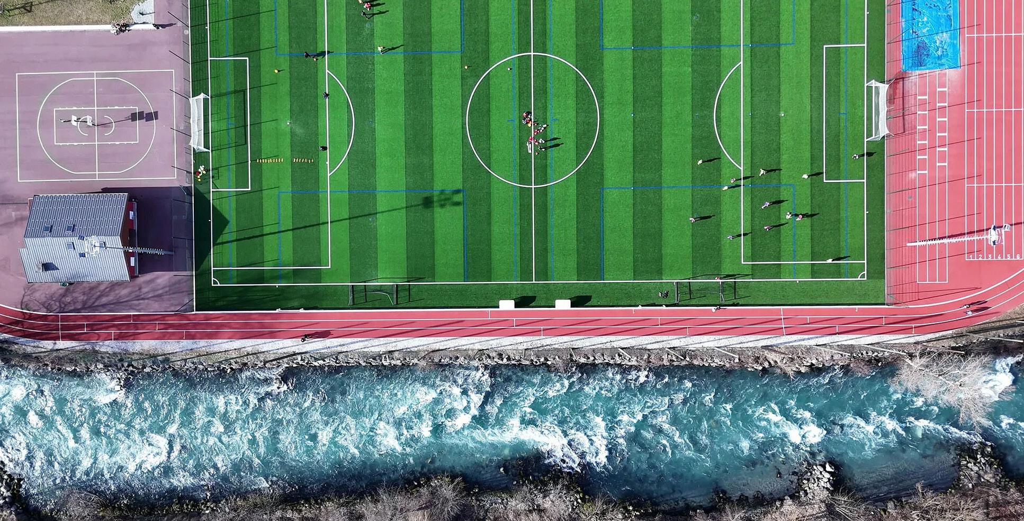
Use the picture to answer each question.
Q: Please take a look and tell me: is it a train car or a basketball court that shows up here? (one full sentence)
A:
It is a basketball court that can be seen here.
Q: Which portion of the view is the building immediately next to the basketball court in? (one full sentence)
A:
The building immediately next to the basketball court is in the left part of the image.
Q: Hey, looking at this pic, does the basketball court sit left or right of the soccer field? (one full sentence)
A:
Looking at the picture, you'll find the basketball court to the left of the soccer field.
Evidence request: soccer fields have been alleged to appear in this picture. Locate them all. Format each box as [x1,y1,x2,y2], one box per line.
[189,0,886,310]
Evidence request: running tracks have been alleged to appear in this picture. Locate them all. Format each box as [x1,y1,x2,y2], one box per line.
[0,0,1024,341]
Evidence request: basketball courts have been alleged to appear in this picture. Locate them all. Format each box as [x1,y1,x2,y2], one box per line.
[16,70,176,182]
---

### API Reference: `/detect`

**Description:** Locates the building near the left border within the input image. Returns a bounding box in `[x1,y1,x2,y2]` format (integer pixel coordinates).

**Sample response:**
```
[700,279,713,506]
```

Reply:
[19,192,141,282]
